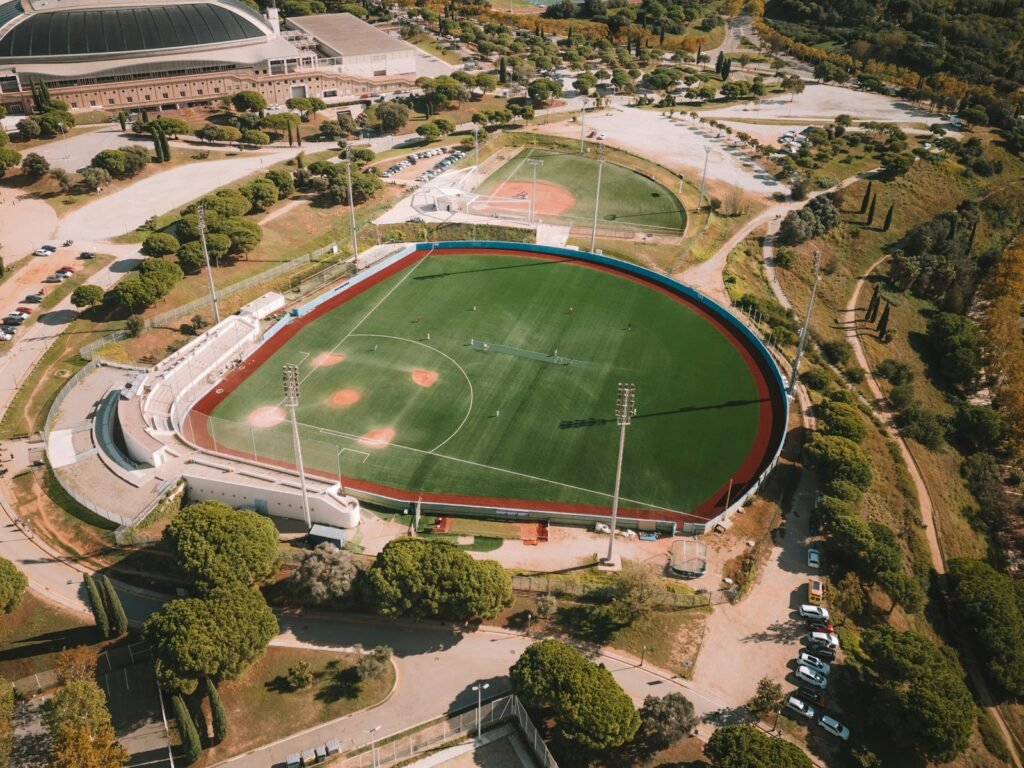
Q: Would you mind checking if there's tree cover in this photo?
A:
Yes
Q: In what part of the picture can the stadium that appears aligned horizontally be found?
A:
top left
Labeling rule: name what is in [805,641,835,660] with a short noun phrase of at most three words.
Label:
car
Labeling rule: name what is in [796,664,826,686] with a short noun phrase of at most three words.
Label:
car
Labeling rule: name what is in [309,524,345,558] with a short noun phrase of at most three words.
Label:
shed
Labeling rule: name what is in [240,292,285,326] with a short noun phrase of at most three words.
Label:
building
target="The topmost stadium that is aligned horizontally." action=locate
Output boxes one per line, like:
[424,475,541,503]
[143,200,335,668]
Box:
[0,0,414,128]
